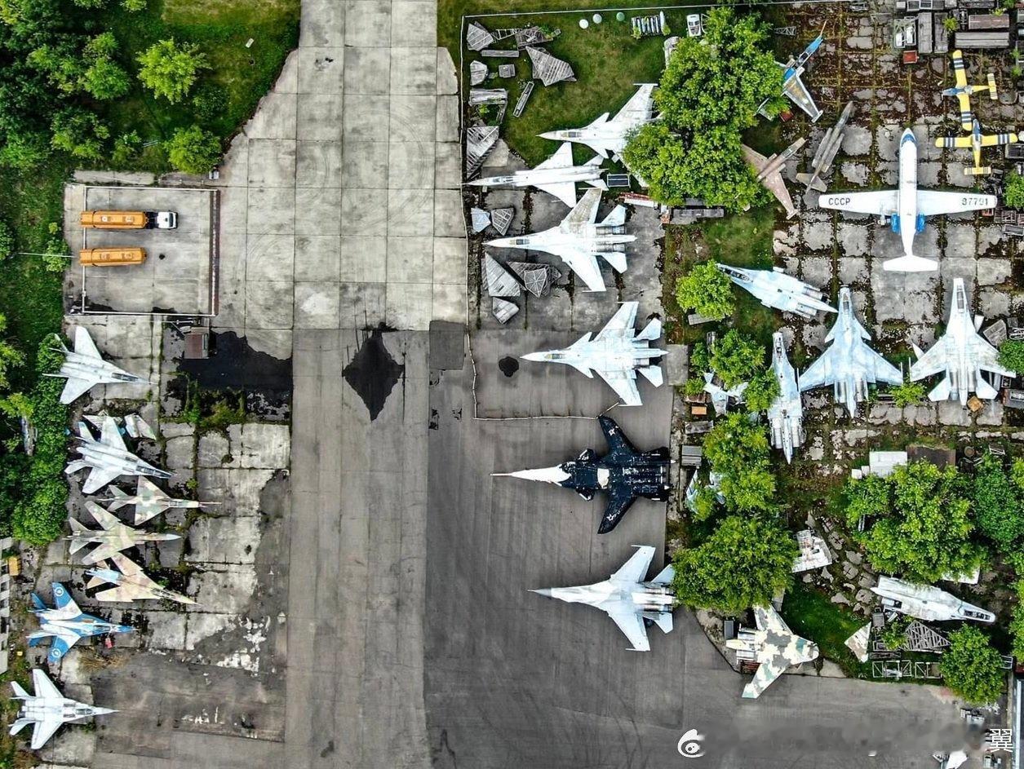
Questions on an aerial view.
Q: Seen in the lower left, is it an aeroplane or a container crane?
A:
aeroplane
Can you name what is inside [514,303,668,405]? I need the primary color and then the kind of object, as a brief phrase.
white airplane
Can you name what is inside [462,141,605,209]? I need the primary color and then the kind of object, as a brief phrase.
white airplane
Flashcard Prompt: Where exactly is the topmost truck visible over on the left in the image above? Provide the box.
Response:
[78,208,187,231]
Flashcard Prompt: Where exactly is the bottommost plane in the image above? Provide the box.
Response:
[0,670,119,749]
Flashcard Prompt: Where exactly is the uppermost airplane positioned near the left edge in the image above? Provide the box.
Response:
[37,326,154,405]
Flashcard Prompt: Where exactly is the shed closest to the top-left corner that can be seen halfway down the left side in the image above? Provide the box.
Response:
[184,327,216,358]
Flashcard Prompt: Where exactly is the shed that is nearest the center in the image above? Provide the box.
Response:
[681,444,703,466]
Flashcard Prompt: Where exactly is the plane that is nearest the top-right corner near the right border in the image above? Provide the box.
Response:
[941,50,998,129]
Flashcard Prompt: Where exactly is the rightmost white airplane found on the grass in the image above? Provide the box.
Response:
[871,577,997,625]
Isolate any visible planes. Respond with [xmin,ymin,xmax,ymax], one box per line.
[532,546,684,651]
[57,415,177,493]
[723,137,805,217]
[91,476,224,525]
[85,554,205,606]
[941,50,998,129]
[533,84,686,187]
[55,502,181,573]
[0,670,119,749]
[796,101,852,192]
[910,277,1014,405]
[766,333,804,464]
[726,597,820,702]
[936,117,1018,174]
[745,27,830,124]
[797,286,902,418]
[489,417,676,533]
[871,577,997,625]
[18,583,138,662]
[717,262,838,321]
[820,128,998,271]
[462,141,605,209]
[514,303,668,405]
[479,187,636,291]
[37,326,154,405]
